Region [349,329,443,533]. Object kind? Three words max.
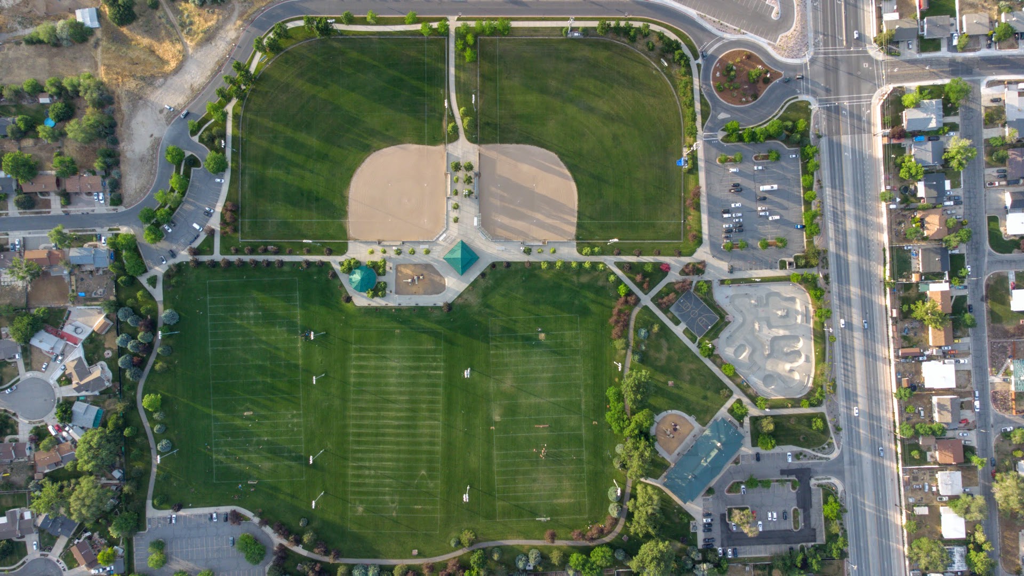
sports field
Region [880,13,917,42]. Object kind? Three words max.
house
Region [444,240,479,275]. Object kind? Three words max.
building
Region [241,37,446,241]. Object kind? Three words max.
baseball field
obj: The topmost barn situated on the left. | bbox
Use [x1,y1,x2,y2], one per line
[77,6,102,29]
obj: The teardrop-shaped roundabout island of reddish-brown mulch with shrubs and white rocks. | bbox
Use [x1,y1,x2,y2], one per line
[711,48,784,107]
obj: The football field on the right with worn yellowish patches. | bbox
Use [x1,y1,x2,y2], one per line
[489,315,587,521]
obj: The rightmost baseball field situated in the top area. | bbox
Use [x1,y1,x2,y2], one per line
[478,38,682,241]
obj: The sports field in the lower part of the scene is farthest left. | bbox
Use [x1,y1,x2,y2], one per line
[207,278,304,482]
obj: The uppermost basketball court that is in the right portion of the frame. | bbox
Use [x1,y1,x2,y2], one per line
[670,290,719,338]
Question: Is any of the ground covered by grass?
Yes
